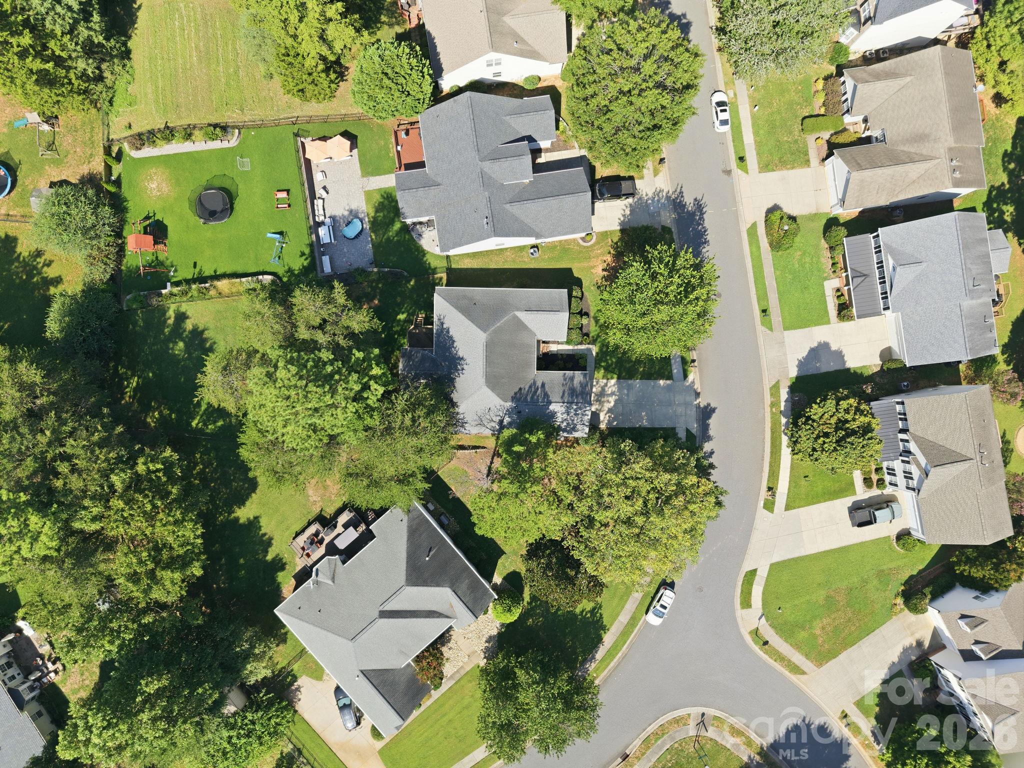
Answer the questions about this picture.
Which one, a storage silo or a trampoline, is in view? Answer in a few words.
trampoline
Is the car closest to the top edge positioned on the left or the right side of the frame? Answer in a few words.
right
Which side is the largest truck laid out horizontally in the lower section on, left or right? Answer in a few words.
right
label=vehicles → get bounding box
[331,686,359,733]
[709,91,730,133]
[748,491,910,569]
[286,676,384,768]
[591,171,667,232]
[646,584,676,627]
[589,176,641,199]
[847,500,902,526]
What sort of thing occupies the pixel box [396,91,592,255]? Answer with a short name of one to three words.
house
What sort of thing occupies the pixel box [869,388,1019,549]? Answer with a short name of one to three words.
house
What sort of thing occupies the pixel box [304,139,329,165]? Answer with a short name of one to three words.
umbrella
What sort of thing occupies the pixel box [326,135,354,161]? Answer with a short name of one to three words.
umbrella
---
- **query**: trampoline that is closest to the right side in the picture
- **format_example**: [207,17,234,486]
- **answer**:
[188,183,233,225]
